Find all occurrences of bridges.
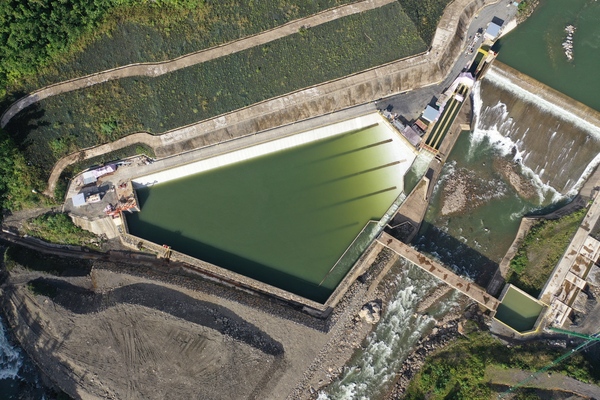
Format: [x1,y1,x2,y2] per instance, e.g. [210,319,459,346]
[374,230,503,314]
